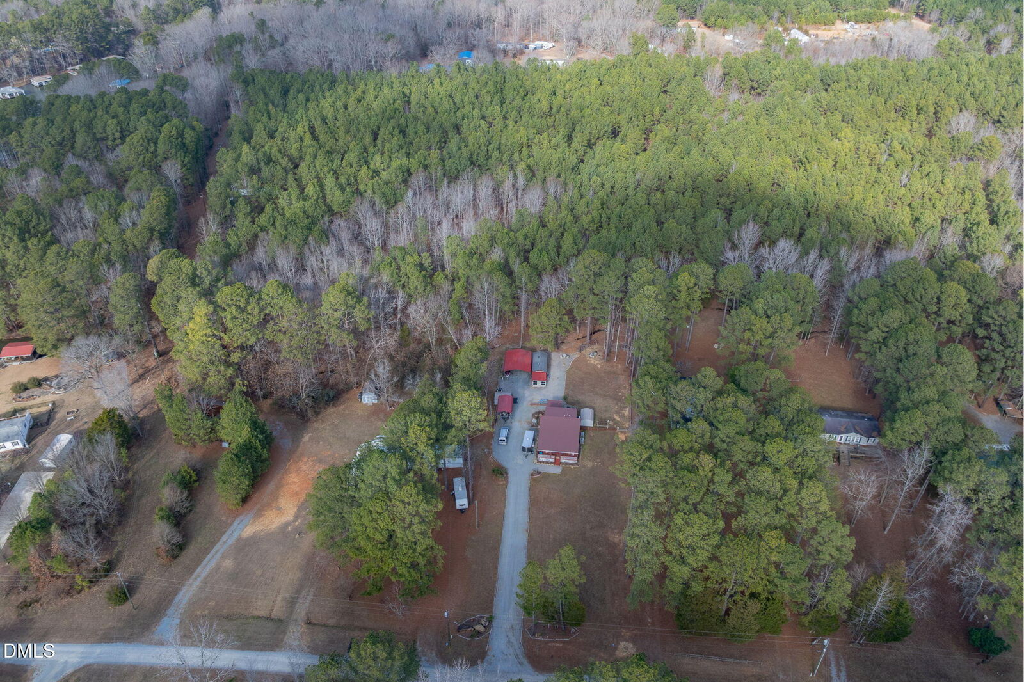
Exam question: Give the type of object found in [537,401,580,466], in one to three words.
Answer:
house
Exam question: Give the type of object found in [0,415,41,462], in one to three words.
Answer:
house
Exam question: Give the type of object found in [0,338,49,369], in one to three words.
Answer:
building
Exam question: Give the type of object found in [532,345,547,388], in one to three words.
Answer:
shed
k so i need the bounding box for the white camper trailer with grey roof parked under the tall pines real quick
[450,476,469,515]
